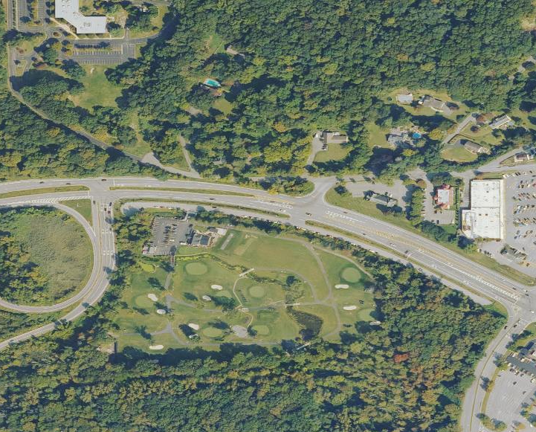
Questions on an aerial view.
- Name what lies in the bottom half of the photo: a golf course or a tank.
golf course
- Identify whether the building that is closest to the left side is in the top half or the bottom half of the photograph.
top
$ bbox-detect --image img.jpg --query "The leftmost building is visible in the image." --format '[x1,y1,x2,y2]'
[55,0,106,34]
